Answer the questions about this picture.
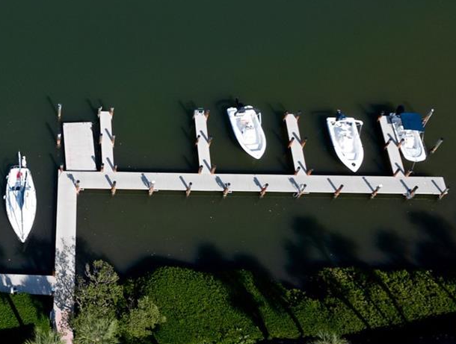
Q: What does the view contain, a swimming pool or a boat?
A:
boat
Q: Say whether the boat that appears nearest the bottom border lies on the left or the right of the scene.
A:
left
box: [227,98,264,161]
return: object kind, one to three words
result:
boat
